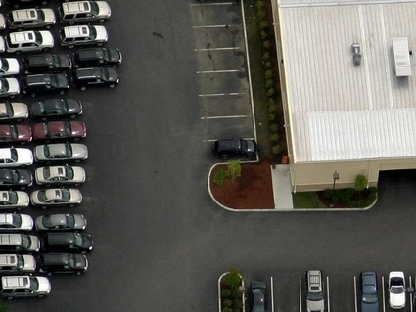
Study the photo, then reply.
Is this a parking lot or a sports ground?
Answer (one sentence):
This image shows a parking lot.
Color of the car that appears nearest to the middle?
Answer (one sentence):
The car that appears nearest to the middle looks black in the image.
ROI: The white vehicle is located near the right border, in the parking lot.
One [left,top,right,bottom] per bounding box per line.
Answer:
[386,270,408,310]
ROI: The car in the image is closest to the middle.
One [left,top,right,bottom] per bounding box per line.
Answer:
[209,139,258,162]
